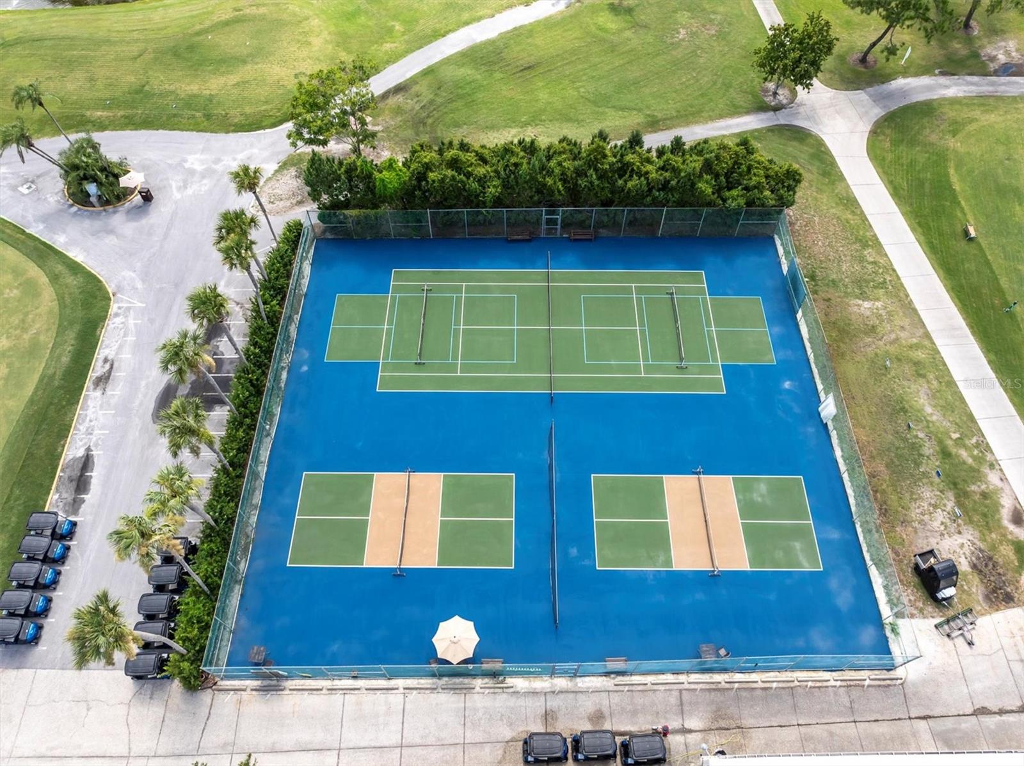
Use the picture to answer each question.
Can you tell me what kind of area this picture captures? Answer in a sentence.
This image shows a sports ground.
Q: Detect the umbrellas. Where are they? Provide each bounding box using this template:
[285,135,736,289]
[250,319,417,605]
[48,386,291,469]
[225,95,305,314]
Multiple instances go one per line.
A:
[120,172,146,189]
[431,615,481,667]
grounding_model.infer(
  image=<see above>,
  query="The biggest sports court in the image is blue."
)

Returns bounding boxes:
[224,237,891,678]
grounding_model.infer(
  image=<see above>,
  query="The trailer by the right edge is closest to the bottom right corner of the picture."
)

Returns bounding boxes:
[936,606,979,653]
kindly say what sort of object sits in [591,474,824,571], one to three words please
sports court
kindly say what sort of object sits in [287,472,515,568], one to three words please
sports court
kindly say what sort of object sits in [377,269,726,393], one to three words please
tennis court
